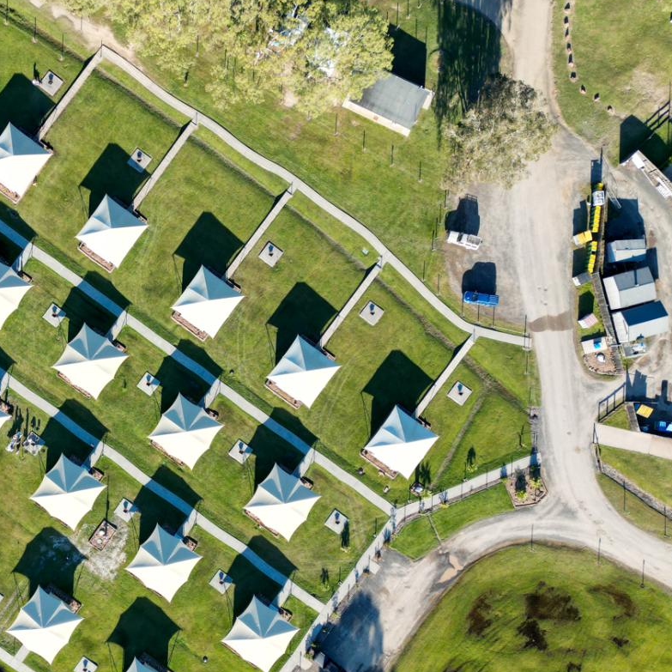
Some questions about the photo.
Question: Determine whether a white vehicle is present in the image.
Yes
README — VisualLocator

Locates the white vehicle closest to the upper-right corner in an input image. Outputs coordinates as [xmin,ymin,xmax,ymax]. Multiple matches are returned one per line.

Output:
[445,232,482,248]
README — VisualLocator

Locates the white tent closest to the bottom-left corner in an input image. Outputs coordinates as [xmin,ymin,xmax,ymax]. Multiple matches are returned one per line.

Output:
[8,566,94,660]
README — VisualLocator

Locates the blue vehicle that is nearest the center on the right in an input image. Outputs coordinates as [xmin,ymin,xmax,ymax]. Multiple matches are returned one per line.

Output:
[464,292,498,306]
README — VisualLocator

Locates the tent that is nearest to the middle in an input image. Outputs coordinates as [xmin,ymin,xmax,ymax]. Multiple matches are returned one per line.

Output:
[252,327,338,419]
